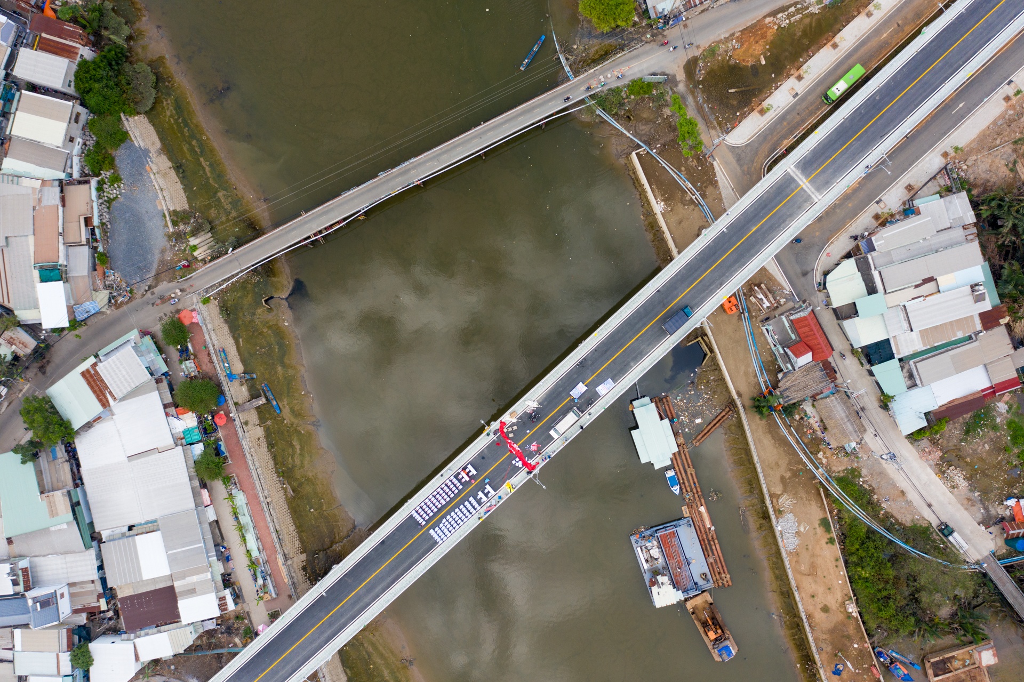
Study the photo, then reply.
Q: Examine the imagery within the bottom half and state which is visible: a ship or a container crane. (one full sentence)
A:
There is a ship within the bottom half.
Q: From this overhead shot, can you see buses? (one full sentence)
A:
Yes, I can see a bus in this picture.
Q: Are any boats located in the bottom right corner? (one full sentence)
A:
Yes, looking in the bottom right corner, one can make out a boat.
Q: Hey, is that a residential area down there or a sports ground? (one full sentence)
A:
This looks like a residential area.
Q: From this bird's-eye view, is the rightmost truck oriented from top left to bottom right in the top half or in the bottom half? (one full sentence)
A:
Seen from above, the rightmost truck oriented from top left to bottom right lies in the bottom half of the view.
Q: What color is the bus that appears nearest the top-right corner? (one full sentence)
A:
The color of the bus that appears nearest the top-right corner is green.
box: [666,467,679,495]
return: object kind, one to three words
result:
boat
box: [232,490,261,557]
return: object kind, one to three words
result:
shed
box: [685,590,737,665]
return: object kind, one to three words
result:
ship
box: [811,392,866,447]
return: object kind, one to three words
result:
house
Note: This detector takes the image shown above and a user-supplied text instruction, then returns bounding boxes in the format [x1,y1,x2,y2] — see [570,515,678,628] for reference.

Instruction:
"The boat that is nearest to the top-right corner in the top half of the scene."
[521,36,544,70]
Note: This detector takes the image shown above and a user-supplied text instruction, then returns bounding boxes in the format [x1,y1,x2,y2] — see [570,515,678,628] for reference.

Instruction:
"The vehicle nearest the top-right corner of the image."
[817,64,865,109]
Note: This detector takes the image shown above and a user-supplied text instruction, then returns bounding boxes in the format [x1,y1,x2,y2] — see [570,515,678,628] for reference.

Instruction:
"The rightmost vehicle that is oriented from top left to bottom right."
[932,519,967,552]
